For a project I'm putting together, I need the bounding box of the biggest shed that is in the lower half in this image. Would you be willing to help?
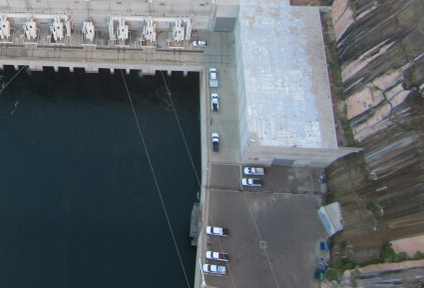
[315,204,344,240]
